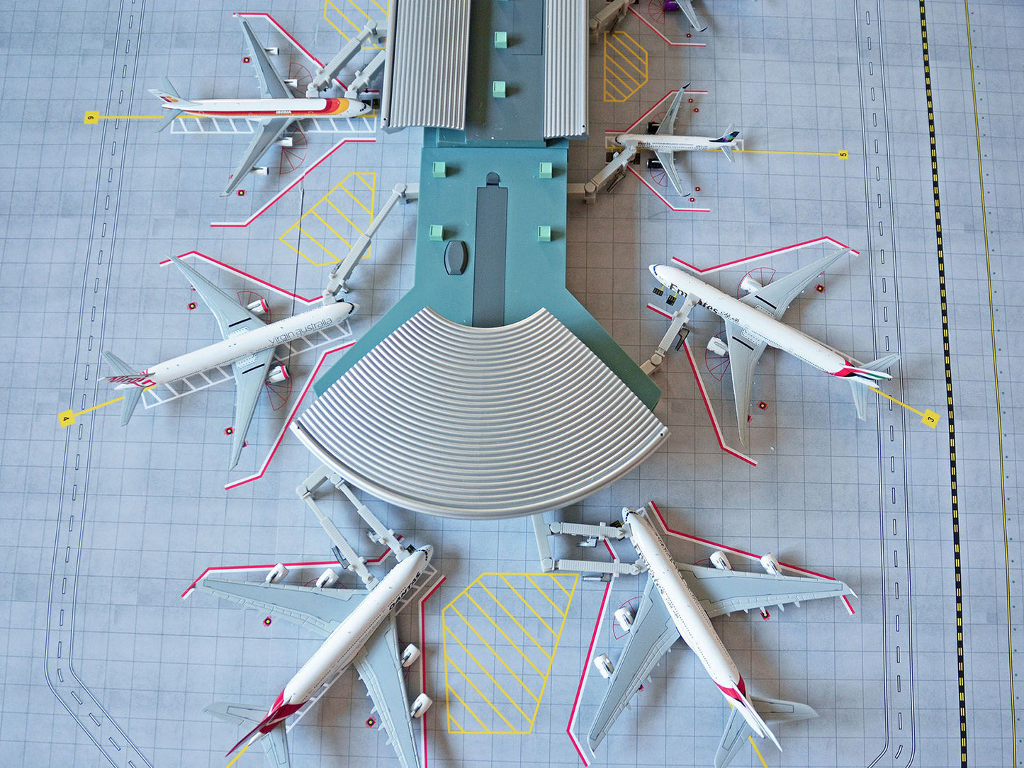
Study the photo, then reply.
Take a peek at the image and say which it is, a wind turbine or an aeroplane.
aeroplane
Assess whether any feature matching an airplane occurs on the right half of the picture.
Yes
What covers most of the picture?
paved ground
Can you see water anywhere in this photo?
No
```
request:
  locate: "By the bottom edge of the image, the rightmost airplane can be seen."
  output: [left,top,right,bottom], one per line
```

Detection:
[588,510,860,768]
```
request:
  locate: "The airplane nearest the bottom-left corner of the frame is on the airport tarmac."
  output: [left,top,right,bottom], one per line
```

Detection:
[181,546,433,768]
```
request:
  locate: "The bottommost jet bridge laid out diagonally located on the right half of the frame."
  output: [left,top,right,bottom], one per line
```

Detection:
[639,295,698,376]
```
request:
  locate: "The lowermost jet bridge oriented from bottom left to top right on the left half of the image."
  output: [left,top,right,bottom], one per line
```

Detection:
[323,183,420,306]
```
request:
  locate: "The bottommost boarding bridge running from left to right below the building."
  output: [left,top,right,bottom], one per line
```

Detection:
[541,556,645,582]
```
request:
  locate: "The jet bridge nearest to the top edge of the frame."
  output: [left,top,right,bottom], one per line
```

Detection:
[589,0,634,48]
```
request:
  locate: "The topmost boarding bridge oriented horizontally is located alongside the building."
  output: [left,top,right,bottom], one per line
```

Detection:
[549,520,625,547]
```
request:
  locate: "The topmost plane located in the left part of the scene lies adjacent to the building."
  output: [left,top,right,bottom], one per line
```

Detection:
[149,10,372,197]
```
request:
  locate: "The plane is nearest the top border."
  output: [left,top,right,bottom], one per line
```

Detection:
[659,0,703,34]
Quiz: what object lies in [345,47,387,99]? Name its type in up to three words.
jet bridge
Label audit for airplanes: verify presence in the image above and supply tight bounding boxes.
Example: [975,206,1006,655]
[615,84,739,197]
[149,10,372,197]
[100,256,359,468]
[588,510,860,768]
[659,0,703,34]
[181,546,433,768]
[648,247,900,446]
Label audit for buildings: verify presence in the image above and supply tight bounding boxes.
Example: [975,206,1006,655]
[290,0,672,522]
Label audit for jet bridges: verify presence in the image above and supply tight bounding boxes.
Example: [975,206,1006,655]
[589,0,634,48]
[541,556,645,582]
[323,183,420,306]
[345,47,387,99]
[329,473,409,561]
[549,520,625,547]
[568,136,638,209]
[639,295,698,376]
[295,485,380,591]
[307,20,389,98]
